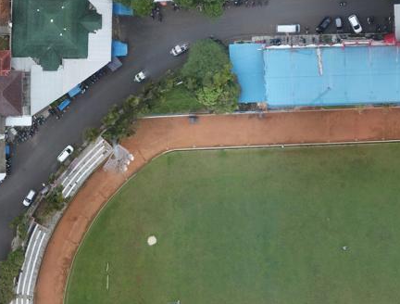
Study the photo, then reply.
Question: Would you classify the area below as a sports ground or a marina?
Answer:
sports ground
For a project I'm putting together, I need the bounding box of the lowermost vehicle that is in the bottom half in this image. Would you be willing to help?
[20,186,36,207]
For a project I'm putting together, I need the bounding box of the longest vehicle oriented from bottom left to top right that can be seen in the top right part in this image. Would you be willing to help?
[315,12,333,34]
